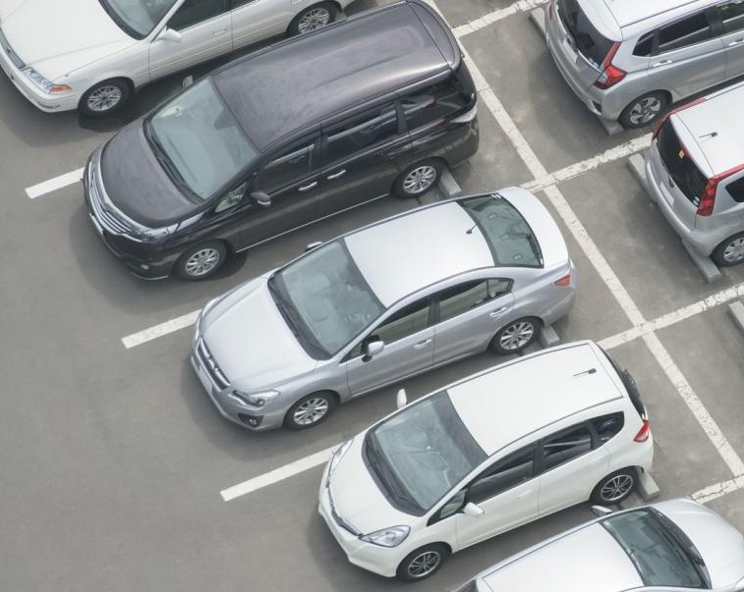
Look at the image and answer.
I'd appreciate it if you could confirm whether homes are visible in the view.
No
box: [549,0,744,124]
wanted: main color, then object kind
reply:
gray car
